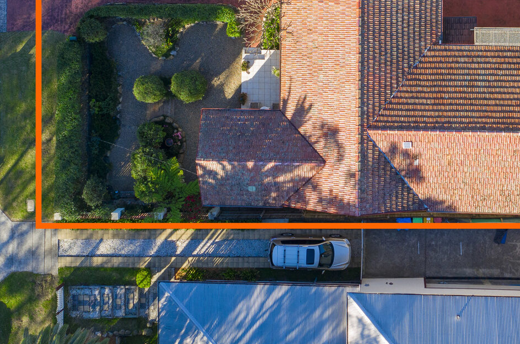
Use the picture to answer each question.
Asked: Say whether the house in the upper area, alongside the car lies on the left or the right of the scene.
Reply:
right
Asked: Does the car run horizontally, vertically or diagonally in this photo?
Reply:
horizontally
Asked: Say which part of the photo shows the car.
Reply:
bottom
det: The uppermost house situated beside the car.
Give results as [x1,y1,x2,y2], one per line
[196,0,520,217]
